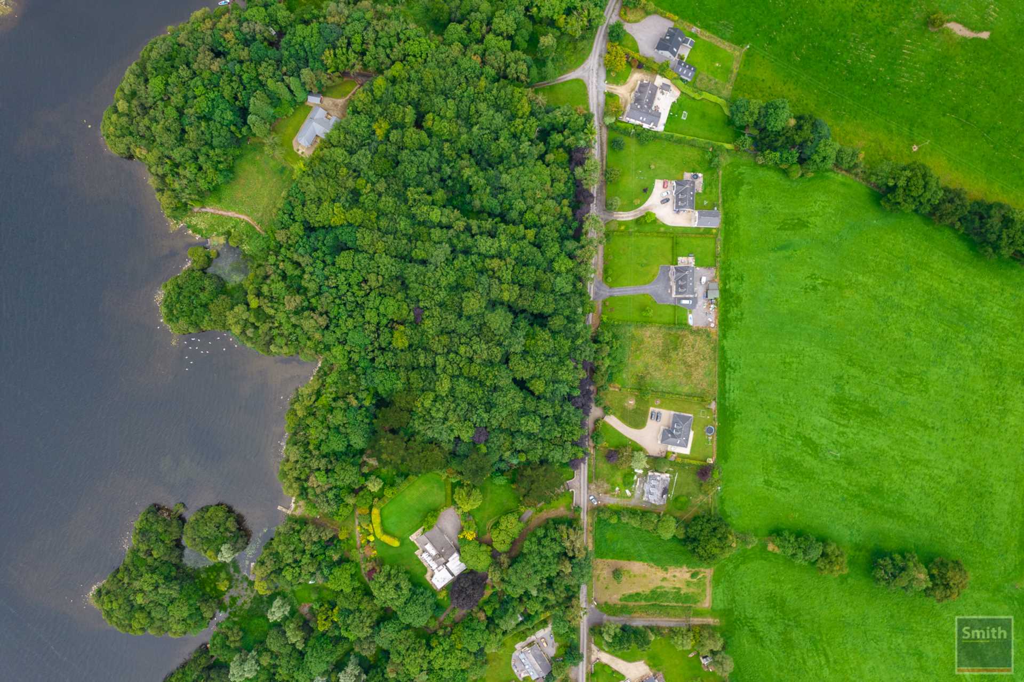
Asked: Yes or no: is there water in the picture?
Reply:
Yes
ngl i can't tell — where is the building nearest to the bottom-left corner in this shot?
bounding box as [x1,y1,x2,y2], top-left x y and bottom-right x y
[416,524,467,590]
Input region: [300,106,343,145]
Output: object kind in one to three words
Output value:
house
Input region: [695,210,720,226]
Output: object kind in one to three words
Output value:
building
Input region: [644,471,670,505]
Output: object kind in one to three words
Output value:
house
